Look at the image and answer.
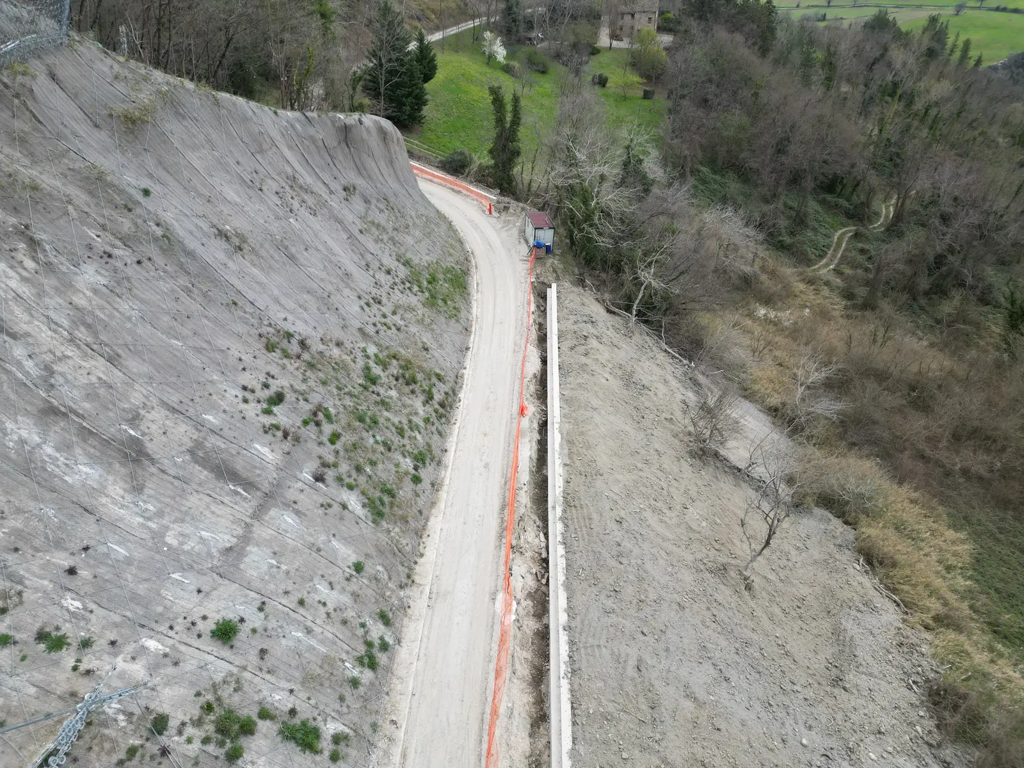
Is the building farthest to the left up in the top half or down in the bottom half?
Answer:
top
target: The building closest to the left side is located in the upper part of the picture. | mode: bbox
[529,213,554,250]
